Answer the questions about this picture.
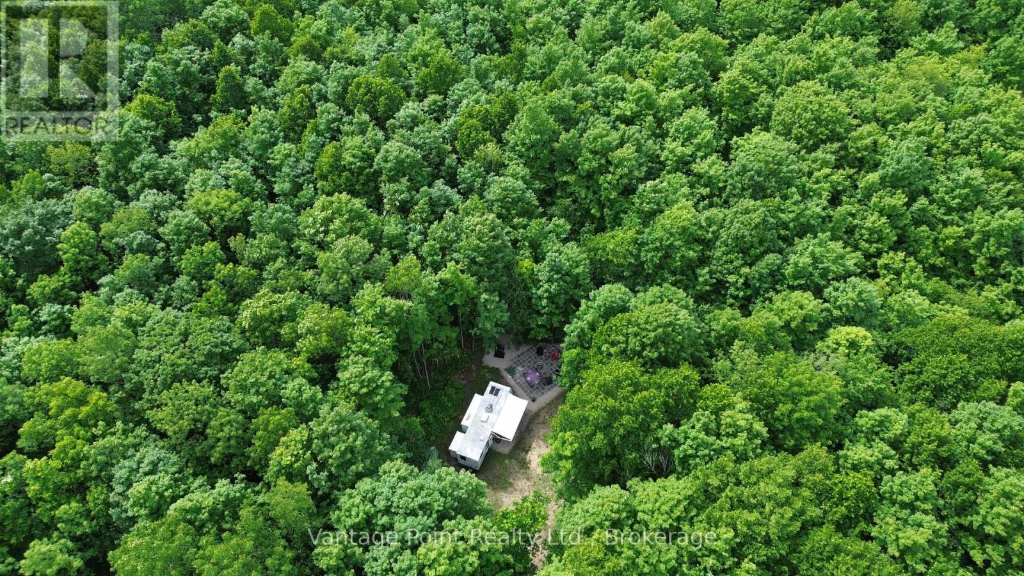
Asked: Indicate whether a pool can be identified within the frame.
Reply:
No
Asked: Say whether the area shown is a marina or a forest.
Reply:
forest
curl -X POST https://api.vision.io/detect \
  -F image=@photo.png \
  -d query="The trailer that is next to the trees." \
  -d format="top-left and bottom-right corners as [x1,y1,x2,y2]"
[449,381,528,475]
